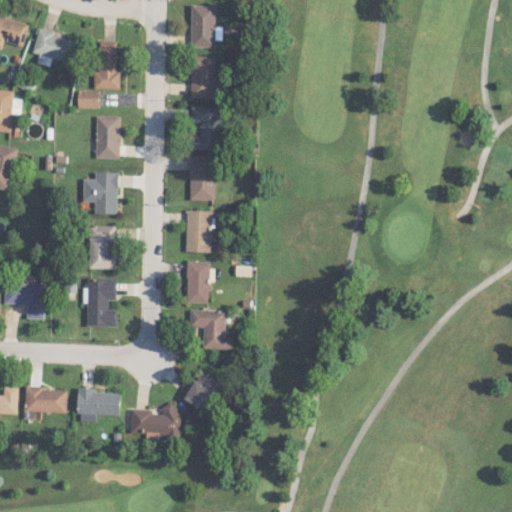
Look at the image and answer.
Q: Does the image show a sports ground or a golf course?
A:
golf course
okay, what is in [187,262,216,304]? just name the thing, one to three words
house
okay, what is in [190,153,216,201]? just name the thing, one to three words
house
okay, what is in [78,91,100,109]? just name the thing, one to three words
building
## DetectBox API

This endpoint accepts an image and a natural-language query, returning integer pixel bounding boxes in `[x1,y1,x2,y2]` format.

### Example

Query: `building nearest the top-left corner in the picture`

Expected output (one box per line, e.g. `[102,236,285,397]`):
[0,16,30,48]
